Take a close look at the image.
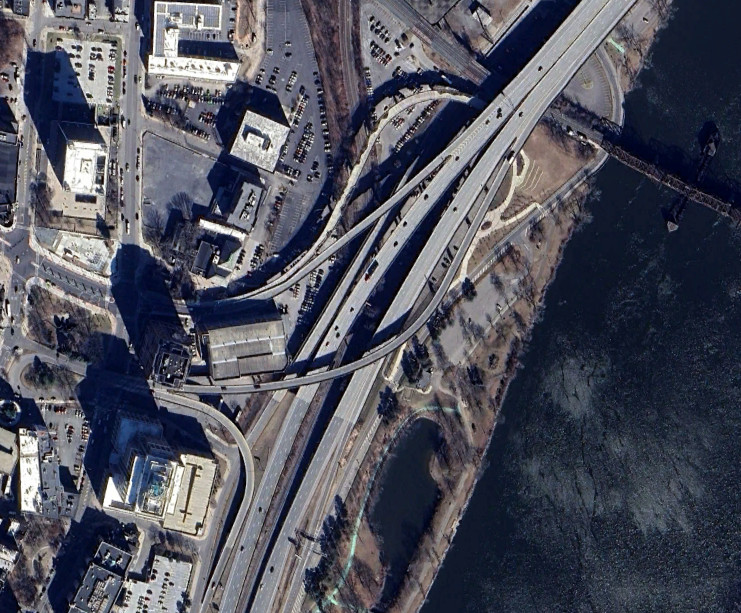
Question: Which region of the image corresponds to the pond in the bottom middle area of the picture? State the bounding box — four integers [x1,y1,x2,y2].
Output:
[371,418,441,613]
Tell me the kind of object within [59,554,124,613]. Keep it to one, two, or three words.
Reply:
building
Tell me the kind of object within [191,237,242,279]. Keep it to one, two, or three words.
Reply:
house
